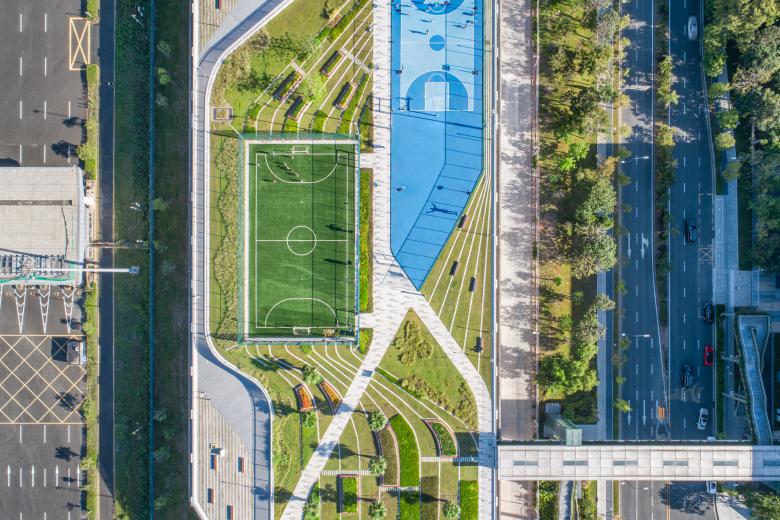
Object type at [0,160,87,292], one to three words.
toll station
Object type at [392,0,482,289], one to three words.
basketball court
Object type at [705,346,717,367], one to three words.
vehicle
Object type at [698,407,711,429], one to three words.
vehicle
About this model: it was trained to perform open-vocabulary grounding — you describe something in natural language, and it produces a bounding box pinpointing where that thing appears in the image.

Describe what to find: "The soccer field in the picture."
[244,139,358,342]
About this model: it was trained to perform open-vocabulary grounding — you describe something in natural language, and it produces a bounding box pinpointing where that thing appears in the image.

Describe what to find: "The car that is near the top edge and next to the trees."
[689,16,701,37]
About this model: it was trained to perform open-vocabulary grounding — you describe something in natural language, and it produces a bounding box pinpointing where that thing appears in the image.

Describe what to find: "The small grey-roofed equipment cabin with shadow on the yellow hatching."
[67,340,84,365]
